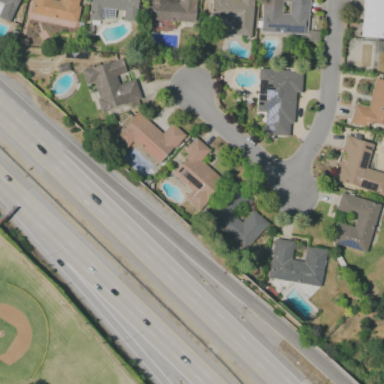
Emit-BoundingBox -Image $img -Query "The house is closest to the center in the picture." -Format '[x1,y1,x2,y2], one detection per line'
[173,138,223,212]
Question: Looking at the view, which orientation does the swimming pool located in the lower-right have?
on a diagonal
